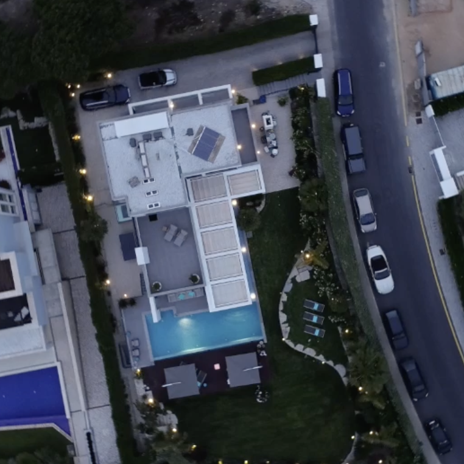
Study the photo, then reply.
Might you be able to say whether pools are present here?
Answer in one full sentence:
Yes, looking at the shot, I can spot a pool.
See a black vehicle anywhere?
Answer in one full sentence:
Yes, this view includes a black vehicle.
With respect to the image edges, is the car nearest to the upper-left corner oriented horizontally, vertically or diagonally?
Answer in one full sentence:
From this overhead view, the car nearest to the upper-left corner appears to run horizontally.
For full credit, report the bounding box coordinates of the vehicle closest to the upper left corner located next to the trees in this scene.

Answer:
[79,84,131,110]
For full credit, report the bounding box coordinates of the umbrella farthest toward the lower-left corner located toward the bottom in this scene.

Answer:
[162,364,200,399]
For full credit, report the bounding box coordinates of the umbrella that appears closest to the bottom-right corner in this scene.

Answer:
[225,352,267,387]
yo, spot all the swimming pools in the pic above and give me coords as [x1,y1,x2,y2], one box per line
[141,221,269,365]
[0,362,73,441]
